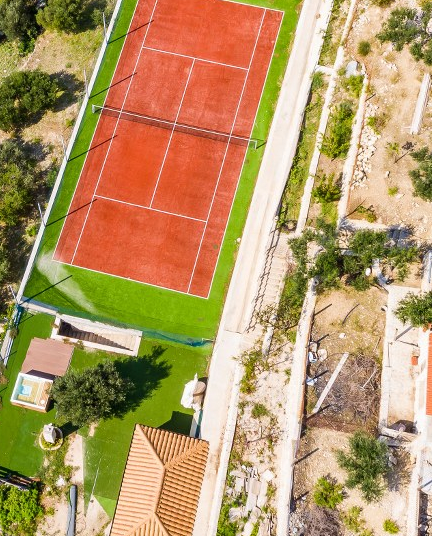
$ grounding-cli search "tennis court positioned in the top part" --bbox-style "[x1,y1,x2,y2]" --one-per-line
[26,0,300,347]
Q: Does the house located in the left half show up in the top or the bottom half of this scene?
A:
bottom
